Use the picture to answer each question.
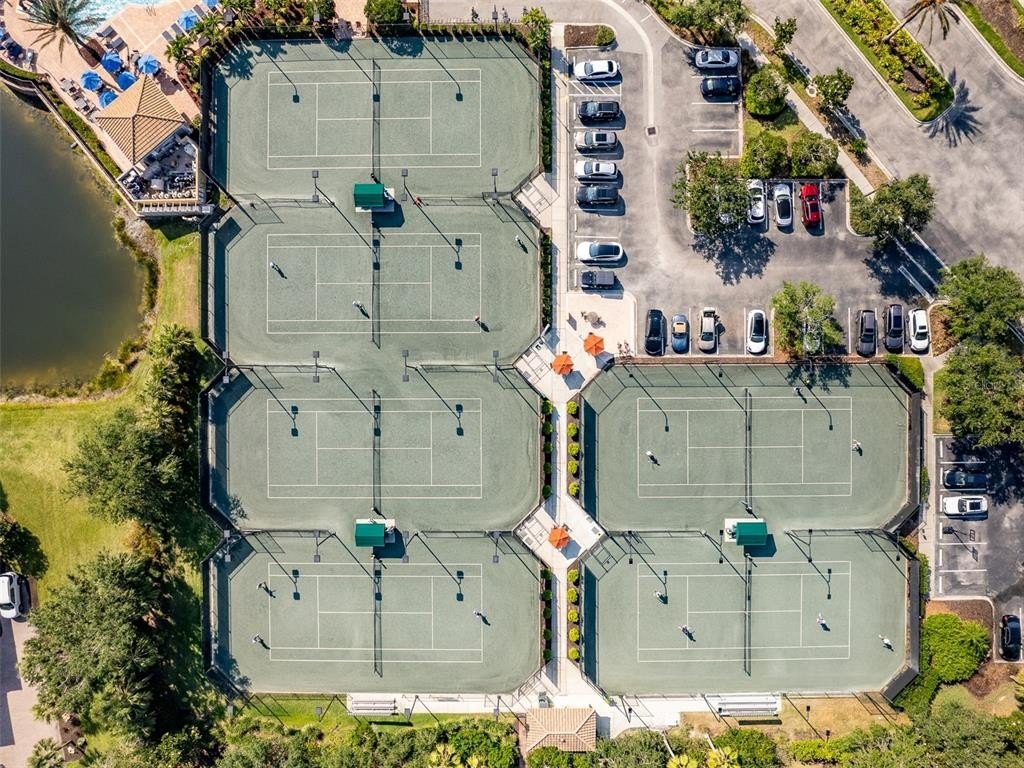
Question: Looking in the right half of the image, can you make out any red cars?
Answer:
Yes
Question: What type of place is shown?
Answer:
sports ground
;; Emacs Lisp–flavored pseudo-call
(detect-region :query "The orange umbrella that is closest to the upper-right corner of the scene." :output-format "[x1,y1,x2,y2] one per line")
[583,333,605,356]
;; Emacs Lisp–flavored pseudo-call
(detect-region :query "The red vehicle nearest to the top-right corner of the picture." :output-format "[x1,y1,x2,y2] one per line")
[797,184,821,228]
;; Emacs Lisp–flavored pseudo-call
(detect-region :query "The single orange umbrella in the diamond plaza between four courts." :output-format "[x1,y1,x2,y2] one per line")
[547,525,569,549]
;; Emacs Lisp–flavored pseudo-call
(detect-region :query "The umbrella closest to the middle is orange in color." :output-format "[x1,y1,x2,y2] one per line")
[551,352,574,376]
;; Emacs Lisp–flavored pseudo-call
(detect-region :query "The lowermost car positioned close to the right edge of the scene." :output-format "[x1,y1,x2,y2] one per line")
[996,613,1021,658]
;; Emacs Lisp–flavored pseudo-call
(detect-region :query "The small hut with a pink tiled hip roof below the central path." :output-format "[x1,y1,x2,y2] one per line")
[526,700,597,753]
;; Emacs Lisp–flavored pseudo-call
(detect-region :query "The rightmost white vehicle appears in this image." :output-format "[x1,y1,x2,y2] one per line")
[940,496,988,517]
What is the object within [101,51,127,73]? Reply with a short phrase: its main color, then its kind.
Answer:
blue umbrella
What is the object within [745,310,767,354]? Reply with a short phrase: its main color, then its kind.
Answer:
white car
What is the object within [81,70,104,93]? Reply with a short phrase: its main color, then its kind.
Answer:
blue umbrella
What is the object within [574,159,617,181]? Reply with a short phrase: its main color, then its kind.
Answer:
white car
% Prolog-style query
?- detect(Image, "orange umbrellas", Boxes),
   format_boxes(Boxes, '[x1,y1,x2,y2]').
[547,525,569,549]
[551,352,574,376]
[583,333,605,356]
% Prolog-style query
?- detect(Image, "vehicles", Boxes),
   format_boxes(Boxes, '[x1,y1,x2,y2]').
[697,304,718,353]
[0,574,25,618]
[745,310,767,354]
[905,310,930,352]
[644,310,664,355]
[670,314,690,353]
[577,242,623,262]
[854,311,876,354]
[694,49,738,72]
[574,129,617,152]
[745,181,767,225]
[575,185,619,206]
[770,185,792,227]
[880,306,904,350]
[578,269,618,289]
[797,184,821,228]
[574,59,619,82]
[996,613,1021,658]
[940,496,988,517]
[574,159,617,181]
[939,470,986,490]
[577,100,620,122]
[697,77,740,99]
